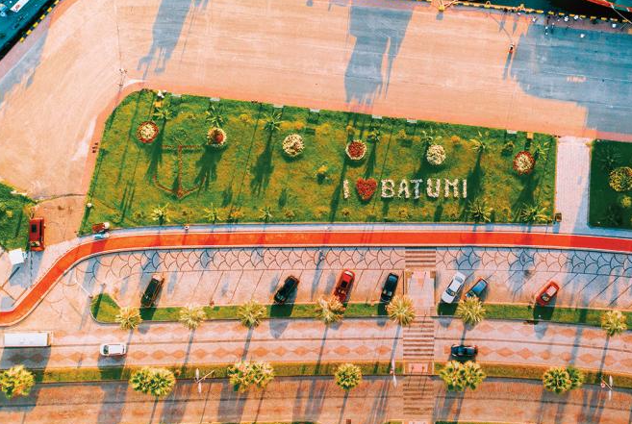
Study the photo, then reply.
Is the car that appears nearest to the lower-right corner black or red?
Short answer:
red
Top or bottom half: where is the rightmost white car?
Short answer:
bottom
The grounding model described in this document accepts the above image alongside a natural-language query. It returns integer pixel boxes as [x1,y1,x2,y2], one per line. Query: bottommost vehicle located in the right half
[449,343,478,359]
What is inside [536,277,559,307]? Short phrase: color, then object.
red car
